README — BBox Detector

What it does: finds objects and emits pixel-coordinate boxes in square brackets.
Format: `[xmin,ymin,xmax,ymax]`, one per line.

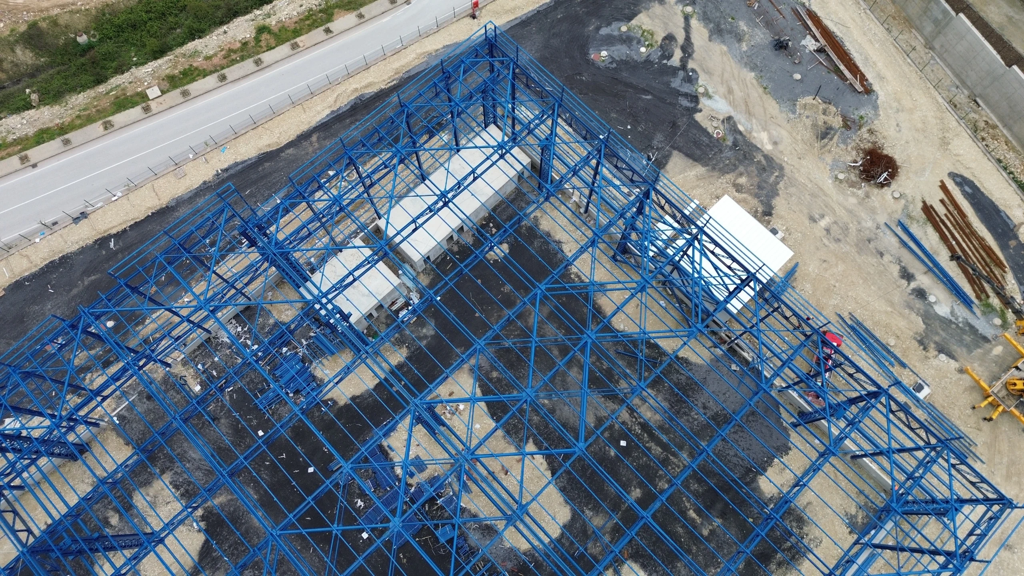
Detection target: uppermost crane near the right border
[947,253,1024,357]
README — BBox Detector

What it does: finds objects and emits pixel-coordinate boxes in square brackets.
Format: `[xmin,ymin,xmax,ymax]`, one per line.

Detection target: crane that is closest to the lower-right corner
[960,333,1024,434]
